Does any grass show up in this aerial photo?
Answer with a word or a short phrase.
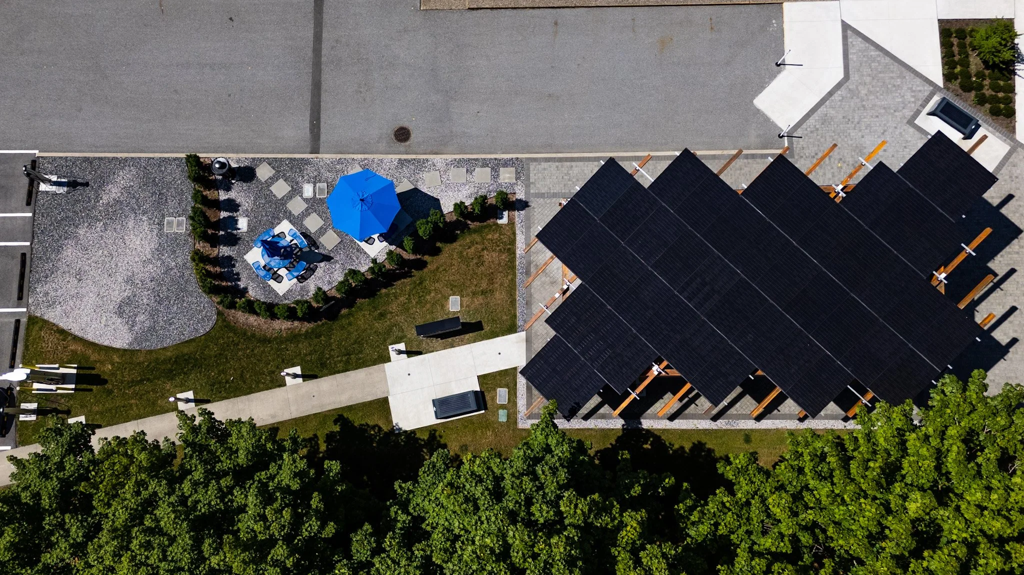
Yes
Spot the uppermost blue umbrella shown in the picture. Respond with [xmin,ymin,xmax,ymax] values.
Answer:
[326,168,401,240]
